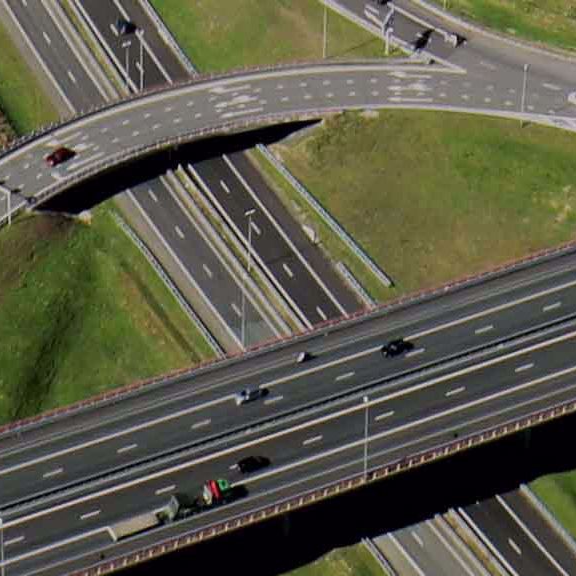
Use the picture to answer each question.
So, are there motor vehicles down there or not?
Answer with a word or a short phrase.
Yes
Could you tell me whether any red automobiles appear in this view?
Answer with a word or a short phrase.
Yes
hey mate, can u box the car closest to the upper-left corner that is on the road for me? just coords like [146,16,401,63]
[113,20,131,36]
